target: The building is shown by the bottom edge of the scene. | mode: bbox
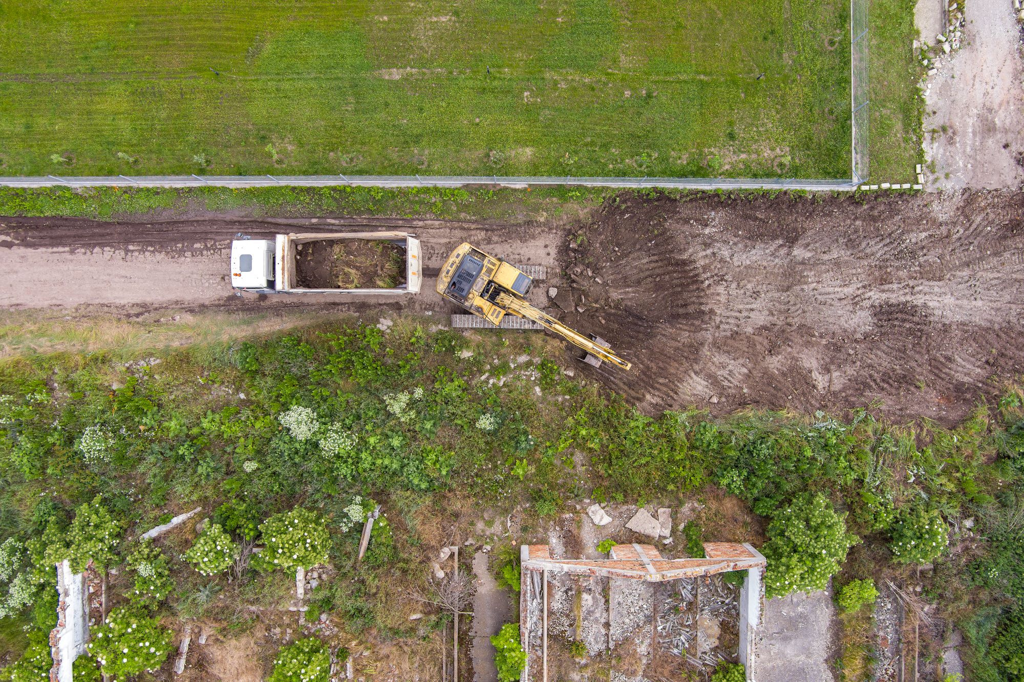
[520,543,768,682]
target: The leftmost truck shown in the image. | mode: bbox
[231,229,423,299]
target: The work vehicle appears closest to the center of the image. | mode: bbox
[436,243,633,370]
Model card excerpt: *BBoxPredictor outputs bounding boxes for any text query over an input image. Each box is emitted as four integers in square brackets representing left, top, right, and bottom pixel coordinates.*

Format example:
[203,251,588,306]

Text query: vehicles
[231,229,423,299]
[436,243,633,370]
